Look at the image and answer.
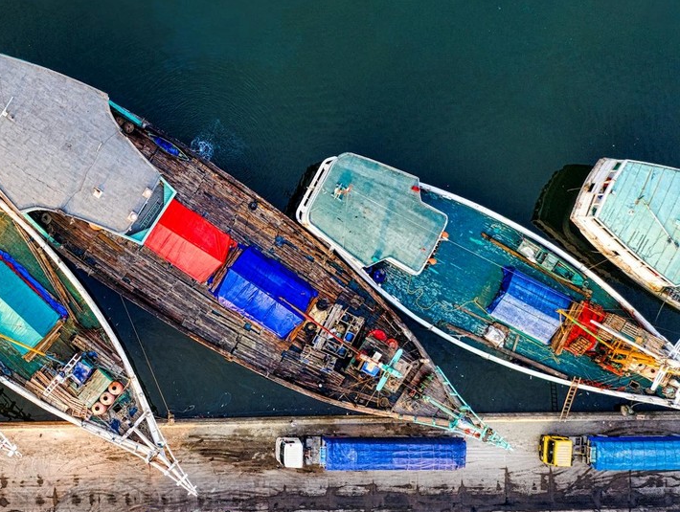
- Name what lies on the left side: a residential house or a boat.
boat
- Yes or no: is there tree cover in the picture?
No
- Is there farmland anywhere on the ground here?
No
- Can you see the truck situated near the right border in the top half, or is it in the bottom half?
bottom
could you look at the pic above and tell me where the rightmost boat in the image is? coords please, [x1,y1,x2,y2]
[560,157,680,311]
